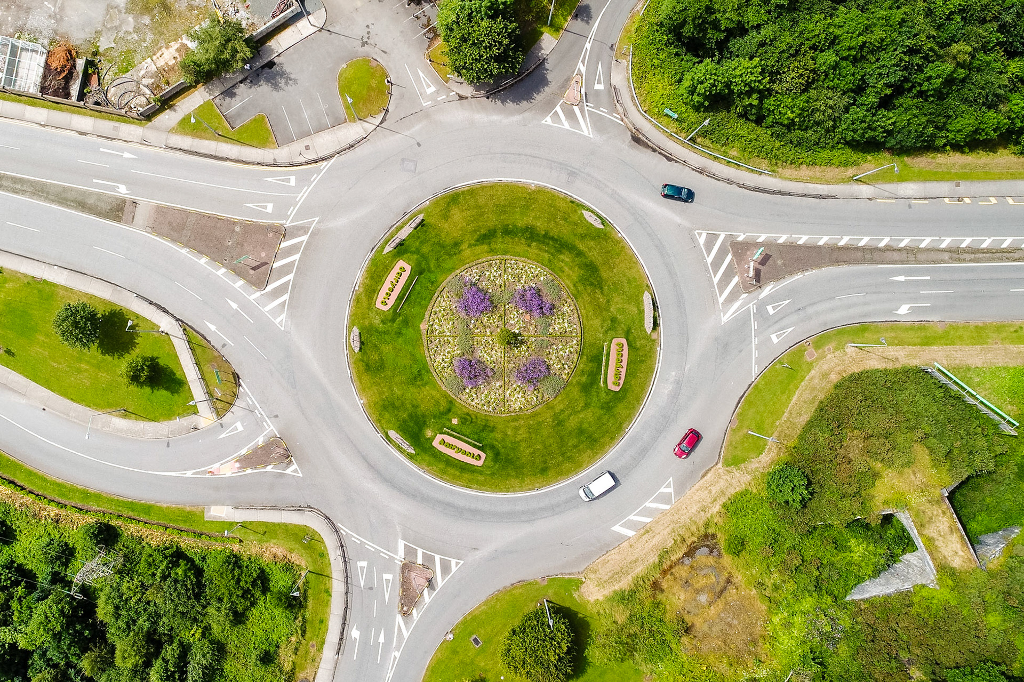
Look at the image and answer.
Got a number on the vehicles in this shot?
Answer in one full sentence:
The number of vehicles here is 3.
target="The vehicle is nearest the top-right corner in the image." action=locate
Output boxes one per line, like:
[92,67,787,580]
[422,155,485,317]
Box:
[660,184,694,204]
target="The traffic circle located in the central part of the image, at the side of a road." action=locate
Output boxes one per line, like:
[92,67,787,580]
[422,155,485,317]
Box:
[290,123,718,551]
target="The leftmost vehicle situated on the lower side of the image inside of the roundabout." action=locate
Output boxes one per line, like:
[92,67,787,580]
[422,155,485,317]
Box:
[578,470,615,500]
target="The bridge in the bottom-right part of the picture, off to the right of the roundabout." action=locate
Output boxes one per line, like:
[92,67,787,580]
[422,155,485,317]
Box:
[847,477,1024,606]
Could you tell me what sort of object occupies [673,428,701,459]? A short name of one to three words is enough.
car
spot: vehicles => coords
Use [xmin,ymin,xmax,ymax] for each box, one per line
[578,470,615,500]
[673,428,701,459]
[660,184,694,204]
